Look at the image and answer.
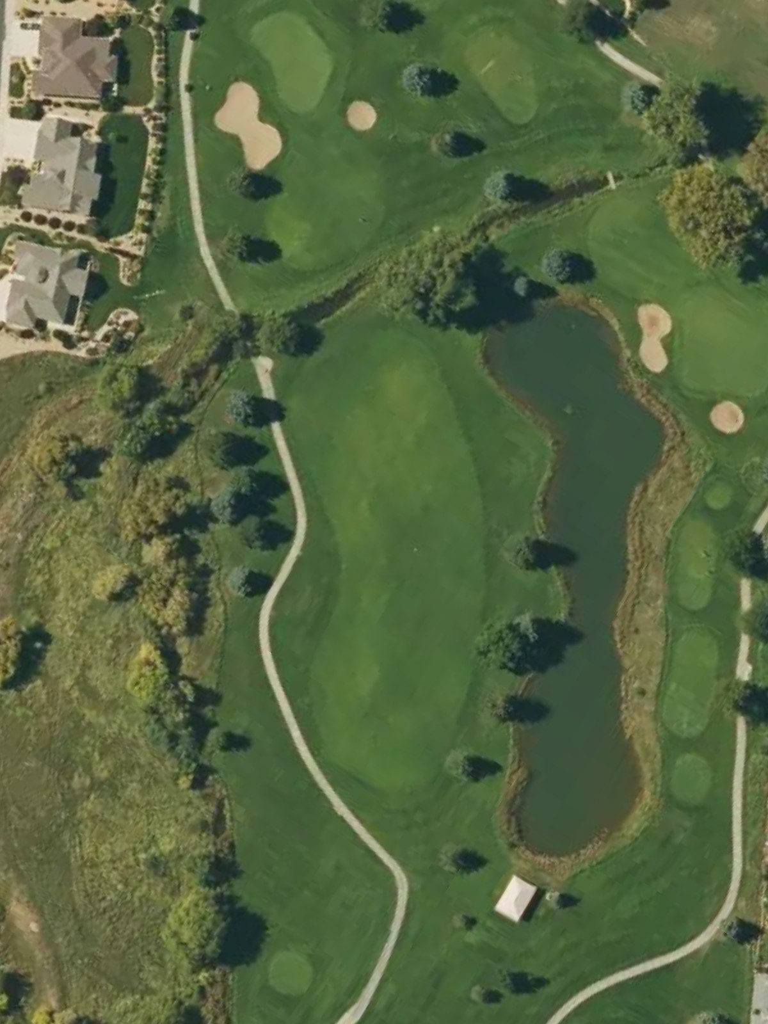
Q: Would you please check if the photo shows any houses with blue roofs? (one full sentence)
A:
No, no house with a blue roof can be seen from above.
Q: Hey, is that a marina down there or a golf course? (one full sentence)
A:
The area seen from above is a golf course.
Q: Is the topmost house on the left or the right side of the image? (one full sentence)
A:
The topmost house sits on the left side.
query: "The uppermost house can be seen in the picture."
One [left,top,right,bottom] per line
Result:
[30,15,117,97]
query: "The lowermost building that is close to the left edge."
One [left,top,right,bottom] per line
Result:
[5,240,88,328]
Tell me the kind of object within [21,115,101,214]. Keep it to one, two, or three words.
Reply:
house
